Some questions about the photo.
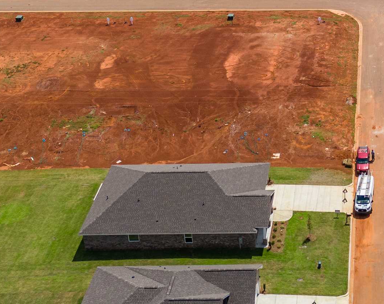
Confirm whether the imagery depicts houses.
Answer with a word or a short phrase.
Yes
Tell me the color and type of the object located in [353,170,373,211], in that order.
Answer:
white vehicle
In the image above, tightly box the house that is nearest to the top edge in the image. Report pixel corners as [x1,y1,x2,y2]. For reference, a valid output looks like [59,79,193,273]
[78,163,280,252]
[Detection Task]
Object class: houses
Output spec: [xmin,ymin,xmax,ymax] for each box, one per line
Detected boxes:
[81,265,262,304]
[78,163,280,252]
